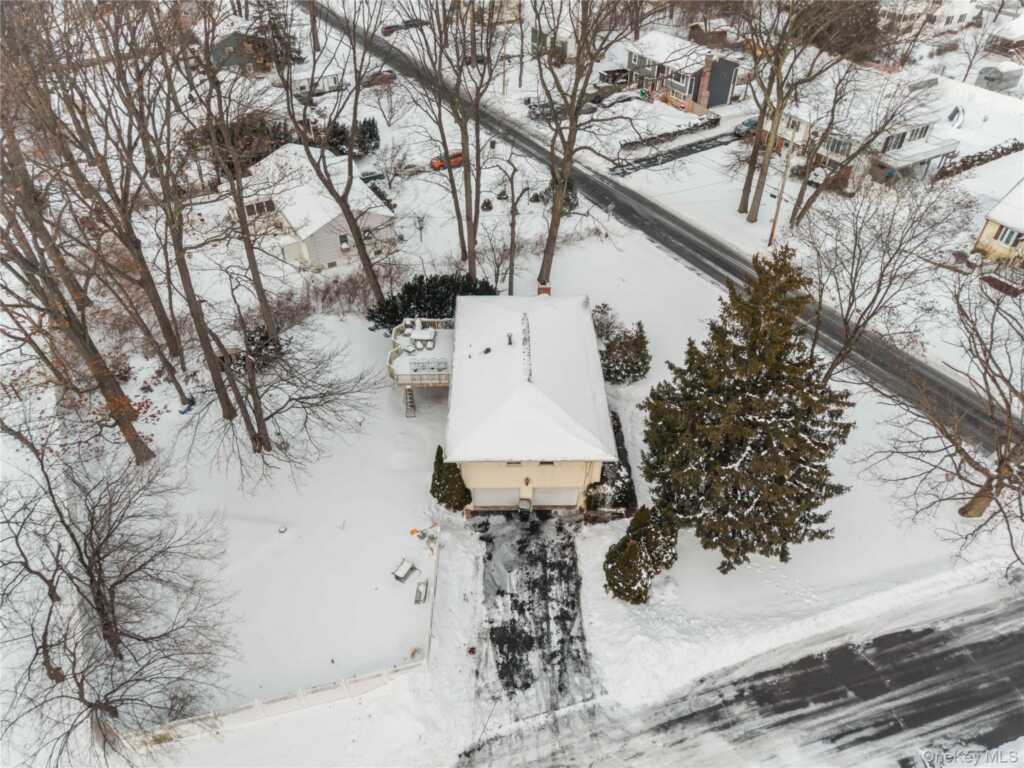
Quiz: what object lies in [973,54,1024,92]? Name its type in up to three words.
shed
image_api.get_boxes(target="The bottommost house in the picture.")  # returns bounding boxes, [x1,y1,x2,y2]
[444,278,619,521]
